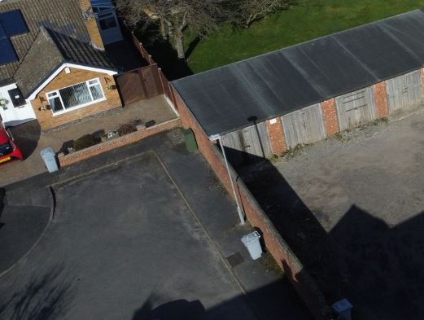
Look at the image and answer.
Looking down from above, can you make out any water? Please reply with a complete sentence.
No, the picture contains no water.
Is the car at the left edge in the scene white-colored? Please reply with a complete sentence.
No, from above the car at the left edge looks red.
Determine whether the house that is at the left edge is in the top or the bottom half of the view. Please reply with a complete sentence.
The top half of the photo is where the house that is at the left edge is.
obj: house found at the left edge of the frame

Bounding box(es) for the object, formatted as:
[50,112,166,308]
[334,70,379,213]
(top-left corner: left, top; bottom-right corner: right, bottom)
[0,0,127,131]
